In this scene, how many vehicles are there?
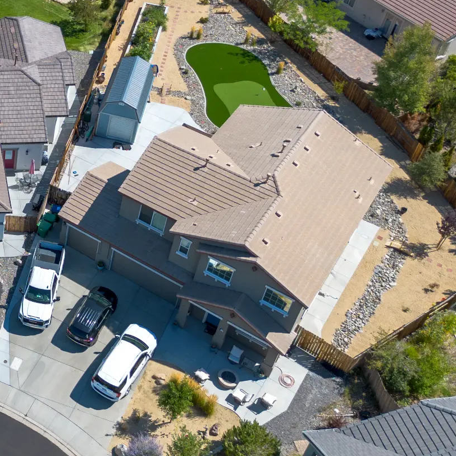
three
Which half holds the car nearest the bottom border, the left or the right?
left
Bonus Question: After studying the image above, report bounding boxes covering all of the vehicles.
[19,244,64,327]
[65,286,115,350]
[91,327,152,404]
